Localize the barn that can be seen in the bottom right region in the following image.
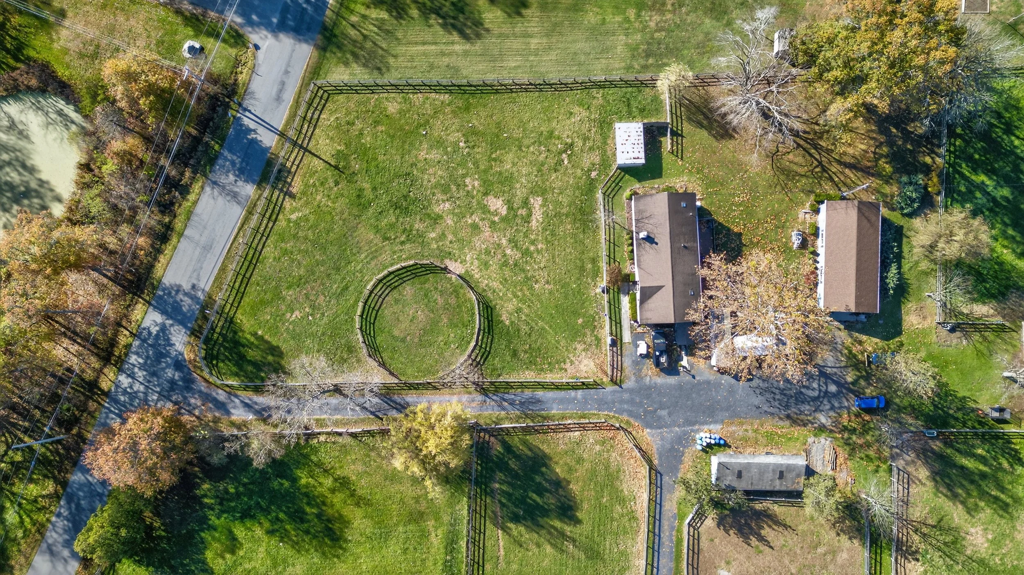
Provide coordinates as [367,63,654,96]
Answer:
[712,451,808,492]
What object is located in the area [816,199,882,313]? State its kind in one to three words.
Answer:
house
